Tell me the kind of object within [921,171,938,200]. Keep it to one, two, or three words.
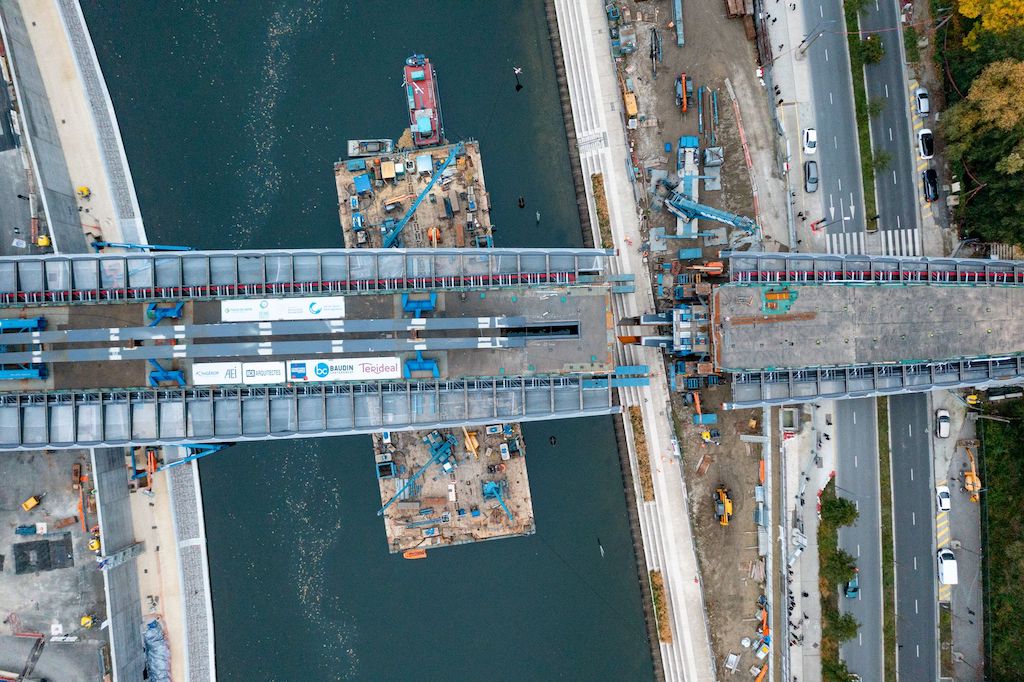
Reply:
car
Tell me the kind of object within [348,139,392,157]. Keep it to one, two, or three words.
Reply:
boat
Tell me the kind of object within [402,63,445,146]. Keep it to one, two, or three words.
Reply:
boat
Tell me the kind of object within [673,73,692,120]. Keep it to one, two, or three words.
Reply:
work vehicle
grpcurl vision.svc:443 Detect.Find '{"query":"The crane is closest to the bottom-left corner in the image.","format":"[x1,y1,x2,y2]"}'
[375,430,459,517]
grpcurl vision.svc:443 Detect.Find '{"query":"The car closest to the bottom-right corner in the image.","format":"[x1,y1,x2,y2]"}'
[937,548,958,586]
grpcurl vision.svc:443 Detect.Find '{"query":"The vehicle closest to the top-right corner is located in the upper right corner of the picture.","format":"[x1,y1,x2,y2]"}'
[913,88,929,116]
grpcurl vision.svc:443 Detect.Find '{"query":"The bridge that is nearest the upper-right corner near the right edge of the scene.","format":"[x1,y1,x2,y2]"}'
[707,251,1024,411]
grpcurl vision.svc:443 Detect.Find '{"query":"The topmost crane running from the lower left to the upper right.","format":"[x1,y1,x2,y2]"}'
[373,140,465,247]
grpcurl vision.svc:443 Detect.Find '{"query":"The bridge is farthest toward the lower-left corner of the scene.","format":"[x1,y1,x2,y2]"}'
[0,249,624,450]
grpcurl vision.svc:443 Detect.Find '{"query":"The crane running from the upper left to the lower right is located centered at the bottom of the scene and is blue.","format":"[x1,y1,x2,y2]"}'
[479,478,515,523]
